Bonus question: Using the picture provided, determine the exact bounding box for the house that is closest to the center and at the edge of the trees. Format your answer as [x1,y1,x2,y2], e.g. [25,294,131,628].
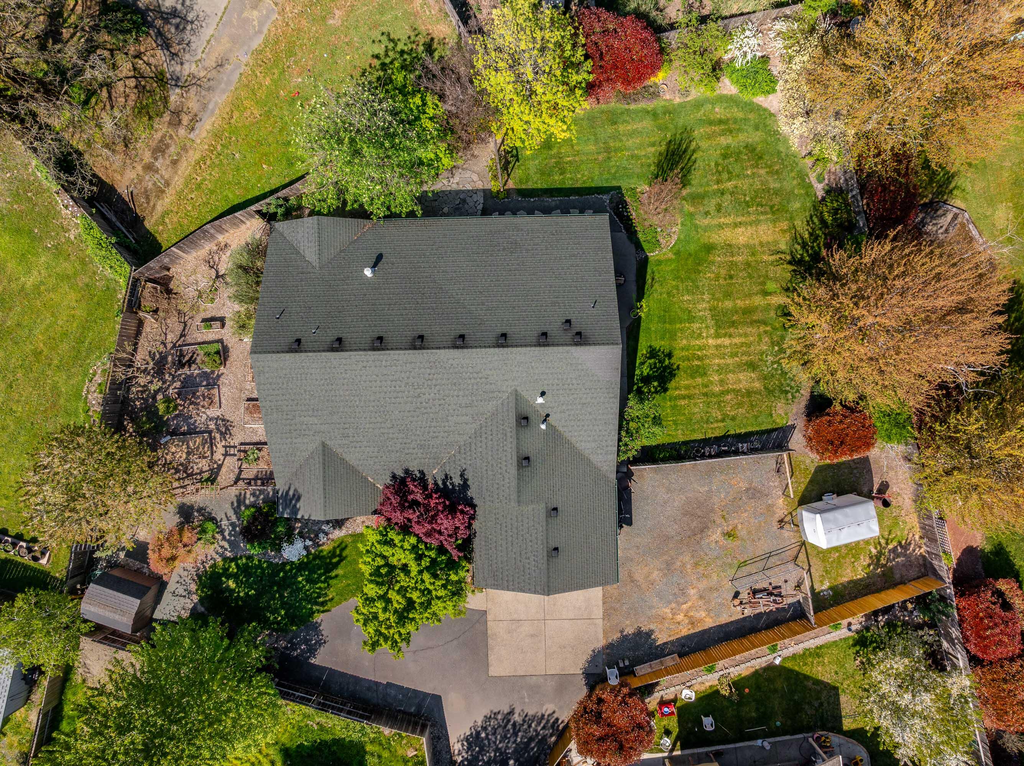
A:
[250,211,622,596]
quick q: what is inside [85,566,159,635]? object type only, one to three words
shed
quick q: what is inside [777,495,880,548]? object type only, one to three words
trailer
